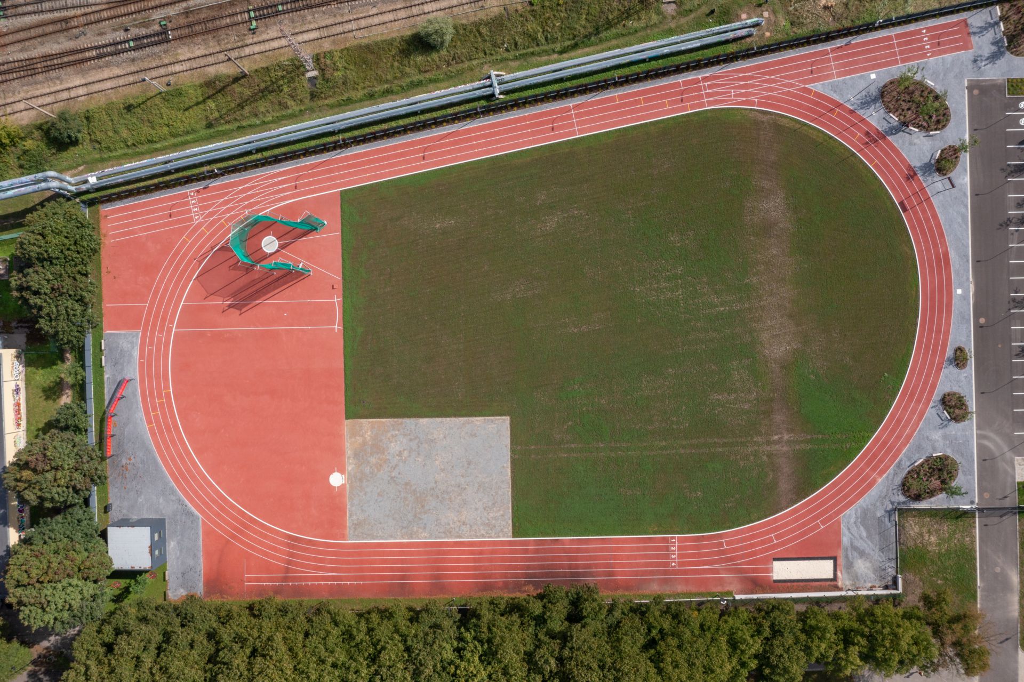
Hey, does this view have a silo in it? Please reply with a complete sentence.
No, the scene contains no silo.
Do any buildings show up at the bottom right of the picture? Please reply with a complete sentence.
No, at the bottom right of the picture there is no building.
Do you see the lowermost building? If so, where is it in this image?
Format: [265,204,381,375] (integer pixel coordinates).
[103,518,167,574]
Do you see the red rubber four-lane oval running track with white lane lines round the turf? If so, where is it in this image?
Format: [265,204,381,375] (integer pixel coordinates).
[101,18,973,600]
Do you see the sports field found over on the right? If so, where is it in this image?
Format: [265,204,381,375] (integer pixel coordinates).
[340,108,919,538]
